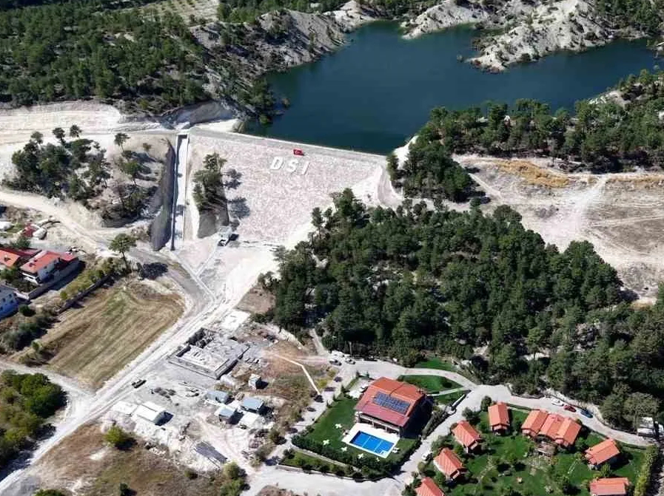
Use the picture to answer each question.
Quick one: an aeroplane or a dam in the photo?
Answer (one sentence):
Of the two, only a dam appears.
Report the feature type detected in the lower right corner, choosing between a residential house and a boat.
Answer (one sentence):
The feature located in the lower right corner is a residential house.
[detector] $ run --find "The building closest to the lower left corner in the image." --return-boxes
[134,405,169,430]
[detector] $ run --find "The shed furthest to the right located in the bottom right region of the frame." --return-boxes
[637,416,662,443]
